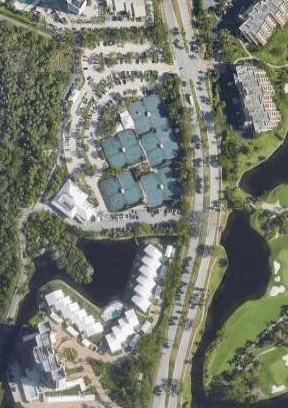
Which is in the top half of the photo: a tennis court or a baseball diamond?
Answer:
tennis court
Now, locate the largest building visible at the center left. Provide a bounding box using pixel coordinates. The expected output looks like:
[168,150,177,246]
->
[52,180,95,223]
